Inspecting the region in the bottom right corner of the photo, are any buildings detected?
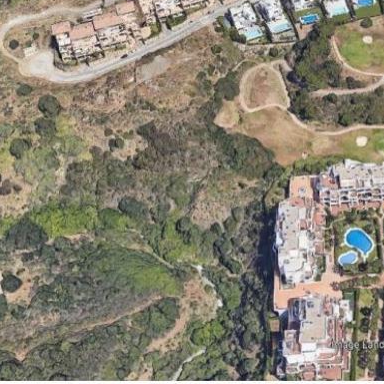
Yes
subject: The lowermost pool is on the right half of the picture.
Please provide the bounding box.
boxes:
[338,249,359,266]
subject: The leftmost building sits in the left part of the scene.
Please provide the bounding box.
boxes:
[51,21,79,62]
